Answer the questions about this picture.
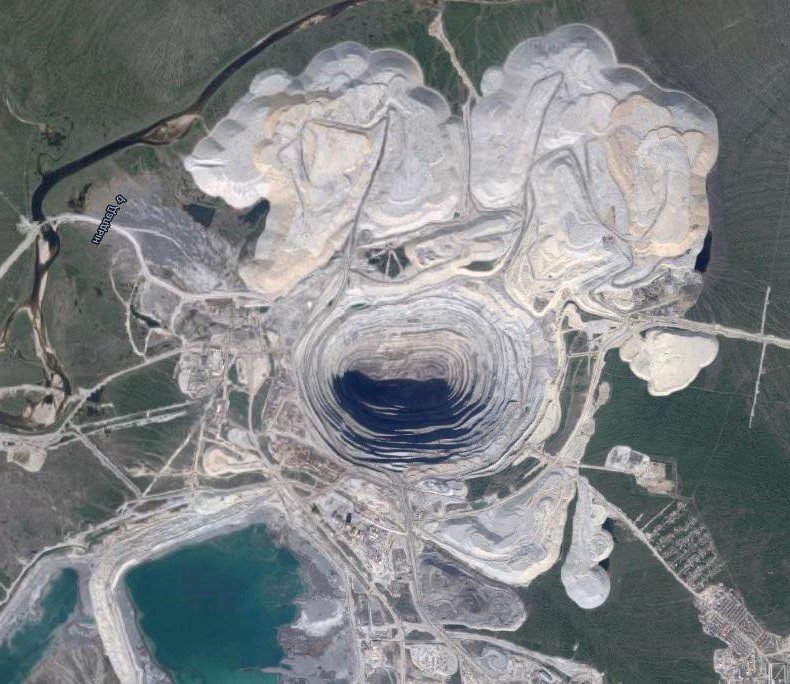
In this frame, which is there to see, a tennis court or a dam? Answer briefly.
dam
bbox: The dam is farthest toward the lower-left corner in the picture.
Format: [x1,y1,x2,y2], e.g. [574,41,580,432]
[0,552,87,628]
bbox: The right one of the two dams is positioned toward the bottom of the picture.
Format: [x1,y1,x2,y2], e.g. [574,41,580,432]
[89,485,272,684]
